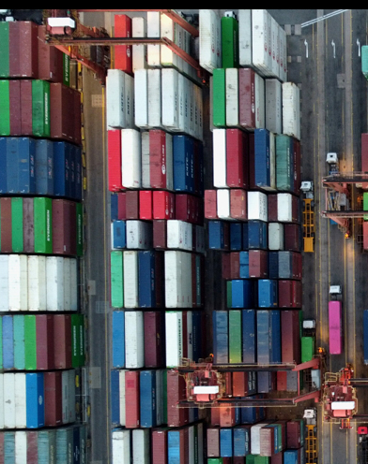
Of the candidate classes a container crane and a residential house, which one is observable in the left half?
container crane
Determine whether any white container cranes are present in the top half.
No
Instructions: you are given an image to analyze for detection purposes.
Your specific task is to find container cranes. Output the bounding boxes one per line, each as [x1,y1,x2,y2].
[32,0,208,90]
[313,167,368,241]
[315,360,368,427]
[167,346,327,410]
